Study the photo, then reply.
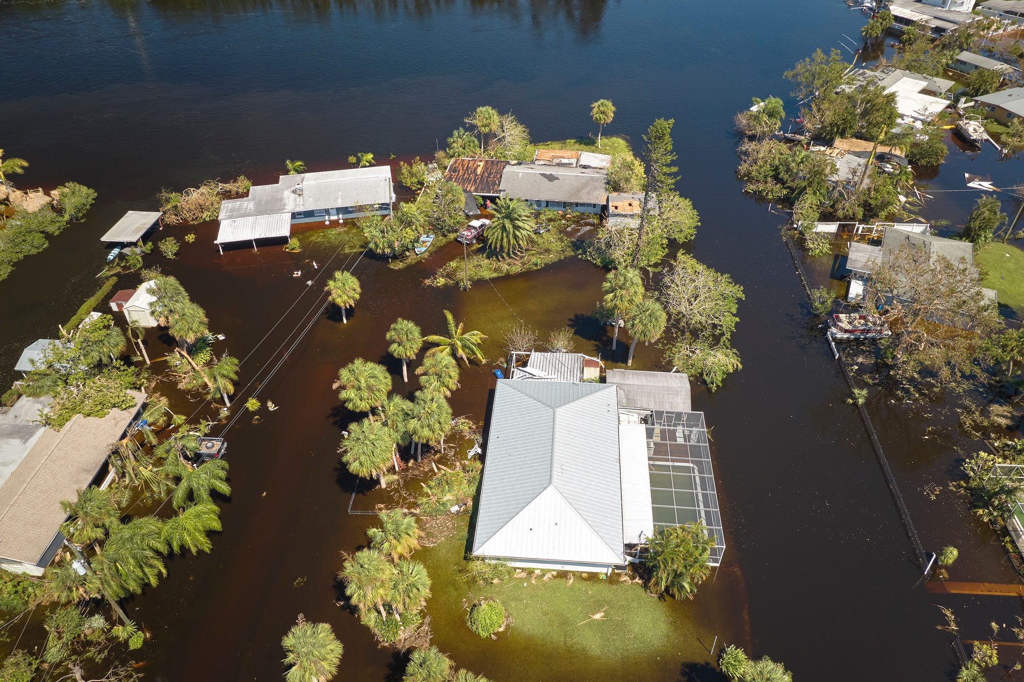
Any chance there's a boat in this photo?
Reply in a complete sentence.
Yes, the image includes a boat.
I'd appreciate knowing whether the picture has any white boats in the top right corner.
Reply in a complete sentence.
Yes, a white boat shows up in the top right corner.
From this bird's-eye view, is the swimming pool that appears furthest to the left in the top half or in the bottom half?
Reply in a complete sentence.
You can find the swimming pool that appears furthest to the left in the bottom half.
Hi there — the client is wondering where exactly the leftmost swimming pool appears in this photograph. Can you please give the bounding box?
[620,435,721,575]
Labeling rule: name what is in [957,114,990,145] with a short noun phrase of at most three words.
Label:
boat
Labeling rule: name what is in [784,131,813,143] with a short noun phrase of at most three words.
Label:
boat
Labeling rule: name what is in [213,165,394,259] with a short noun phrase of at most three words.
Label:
house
